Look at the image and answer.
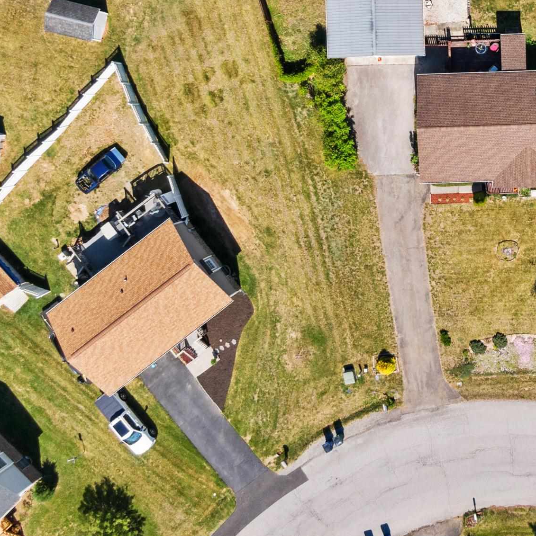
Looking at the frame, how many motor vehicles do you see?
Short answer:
2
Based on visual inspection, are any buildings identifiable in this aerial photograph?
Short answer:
Yes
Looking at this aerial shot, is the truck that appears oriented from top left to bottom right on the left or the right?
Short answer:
left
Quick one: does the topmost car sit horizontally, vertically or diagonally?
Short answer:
diagonally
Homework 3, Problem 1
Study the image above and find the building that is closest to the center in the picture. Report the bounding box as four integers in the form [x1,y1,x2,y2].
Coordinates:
[46,217,251,396]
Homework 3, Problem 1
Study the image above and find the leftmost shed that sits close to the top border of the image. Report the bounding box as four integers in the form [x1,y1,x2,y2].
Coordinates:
[45,0,114,43]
